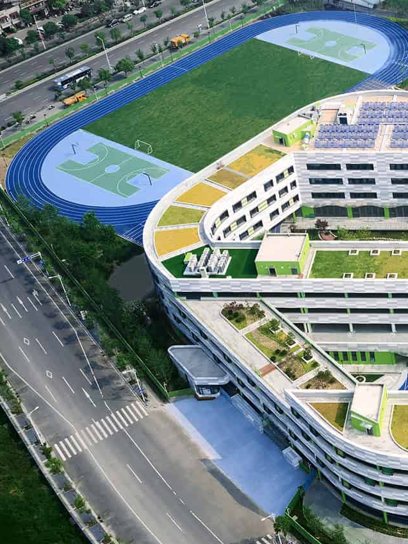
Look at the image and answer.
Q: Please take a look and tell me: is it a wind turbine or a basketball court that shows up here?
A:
basketball court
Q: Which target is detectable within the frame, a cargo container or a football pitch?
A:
football pitch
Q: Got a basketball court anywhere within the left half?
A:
Yes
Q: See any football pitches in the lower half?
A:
No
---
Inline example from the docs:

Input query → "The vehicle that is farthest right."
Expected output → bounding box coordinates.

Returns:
[170,32,192,47]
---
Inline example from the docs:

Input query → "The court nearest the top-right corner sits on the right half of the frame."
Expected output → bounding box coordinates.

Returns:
[284,26,378,63]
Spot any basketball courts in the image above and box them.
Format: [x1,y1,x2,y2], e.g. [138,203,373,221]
[55,142,170,199]
[284,26,378,63]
